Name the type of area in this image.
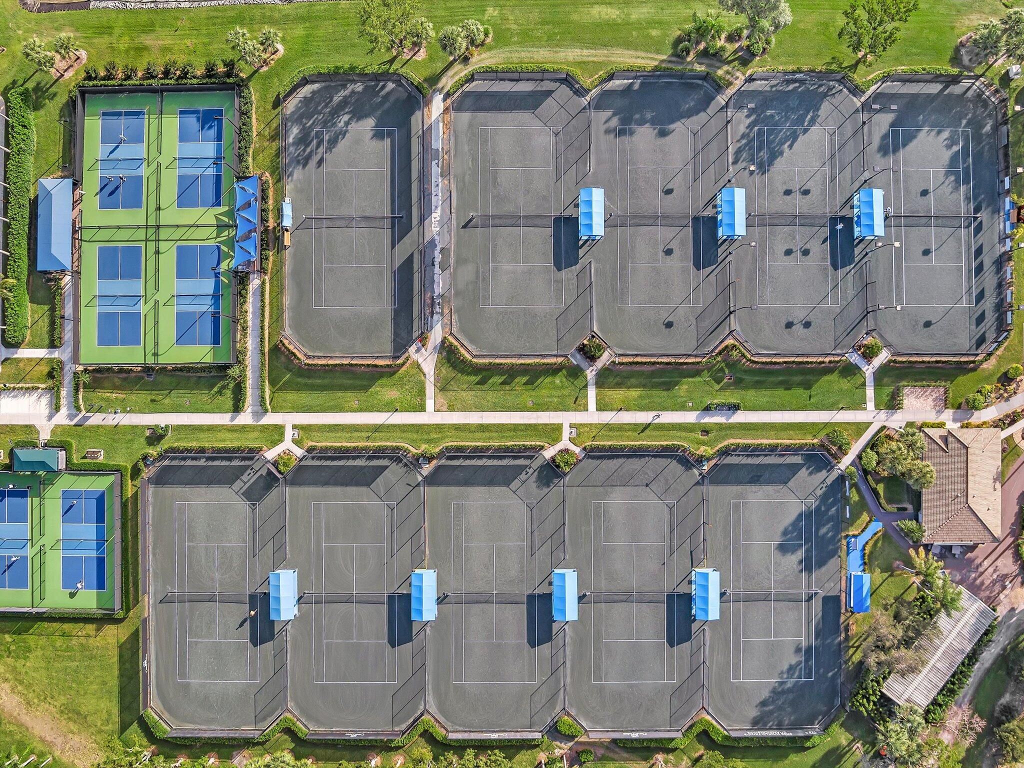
sports ground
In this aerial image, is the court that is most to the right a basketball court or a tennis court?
tennis court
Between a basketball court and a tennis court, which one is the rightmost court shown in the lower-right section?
tennis court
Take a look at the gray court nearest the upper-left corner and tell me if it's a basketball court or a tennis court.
tennis court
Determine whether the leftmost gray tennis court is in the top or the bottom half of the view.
bottom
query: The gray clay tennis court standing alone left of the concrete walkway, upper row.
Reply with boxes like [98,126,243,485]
[285,82,423,355]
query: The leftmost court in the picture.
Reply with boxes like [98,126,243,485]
[0,471,44,607]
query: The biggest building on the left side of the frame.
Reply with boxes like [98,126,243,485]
[37,179,83,272]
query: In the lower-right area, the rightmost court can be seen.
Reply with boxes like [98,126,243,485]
[703,452,841,729]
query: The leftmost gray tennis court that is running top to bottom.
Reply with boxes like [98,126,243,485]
[149,453,287,729]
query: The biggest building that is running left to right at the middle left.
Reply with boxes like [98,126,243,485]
[14,448,68,471]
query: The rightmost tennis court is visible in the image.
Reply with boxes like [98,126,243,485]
[863,81,1001,353]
